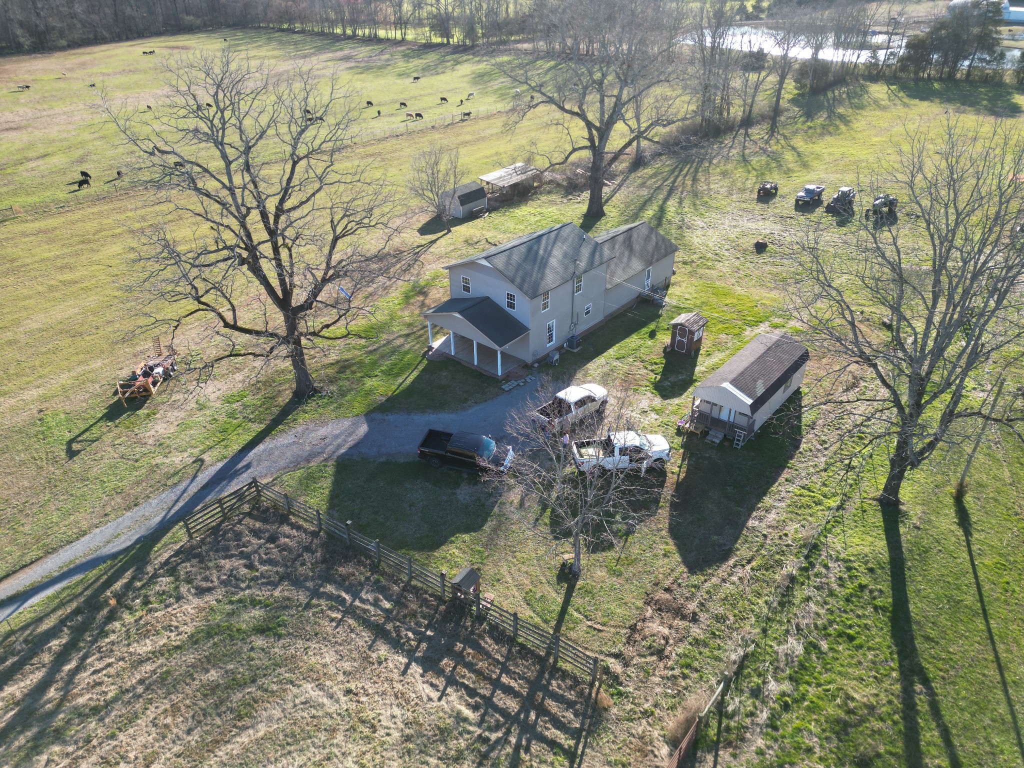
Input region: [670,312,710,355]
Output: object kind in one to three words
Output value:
shed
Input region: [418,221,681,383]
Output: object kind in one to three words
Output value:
house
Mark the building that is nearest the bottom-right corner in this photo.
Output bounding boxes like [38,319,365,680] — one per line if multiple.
[688,333,810,446]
